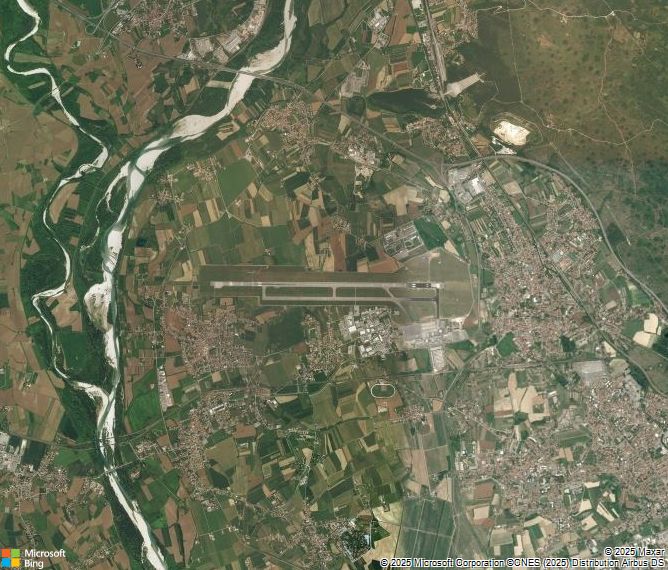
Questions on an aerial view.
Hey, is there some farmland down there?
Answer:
Yes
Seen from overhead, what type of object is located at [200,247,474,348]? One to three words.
airport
